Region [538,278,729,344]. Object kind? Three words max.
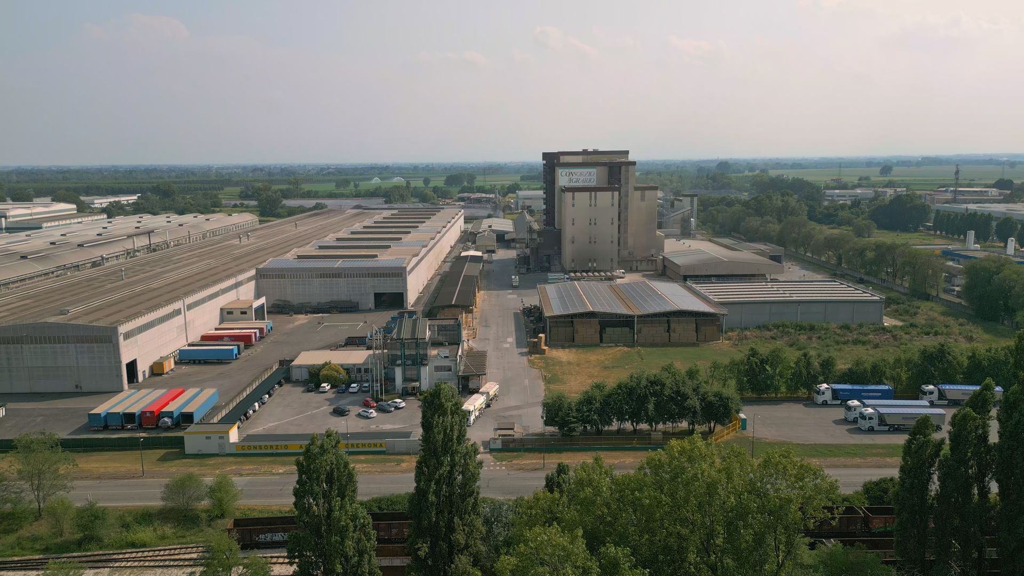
barn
